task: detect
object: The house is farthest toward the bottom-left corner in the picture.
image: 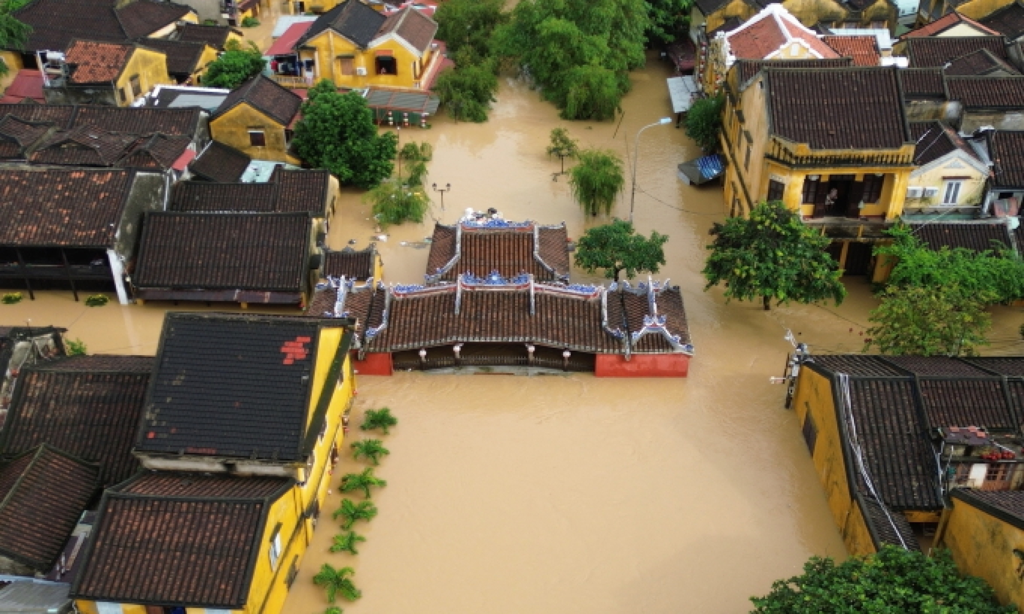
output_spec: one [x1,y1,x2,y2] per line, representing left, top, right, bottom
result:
[0,441,101,614]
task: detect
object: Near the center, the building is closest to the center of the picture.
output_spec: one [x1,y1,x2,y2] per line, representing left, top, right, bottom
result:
[420,215,577,288]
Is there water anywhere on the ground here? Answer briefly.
Yes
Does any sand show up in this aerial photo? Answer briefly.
No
